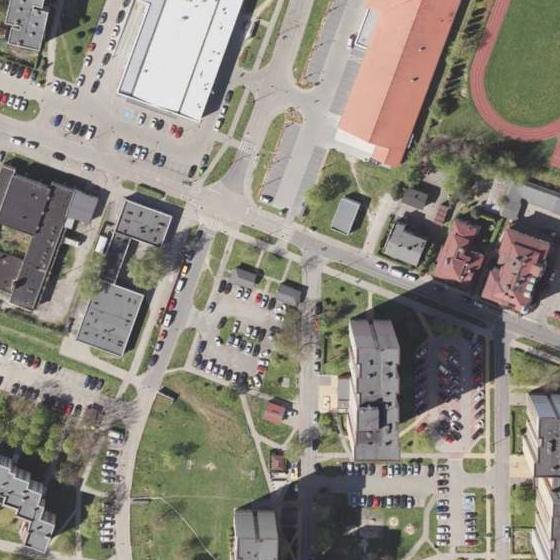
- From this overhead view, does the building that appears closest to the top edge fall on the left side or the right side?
left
